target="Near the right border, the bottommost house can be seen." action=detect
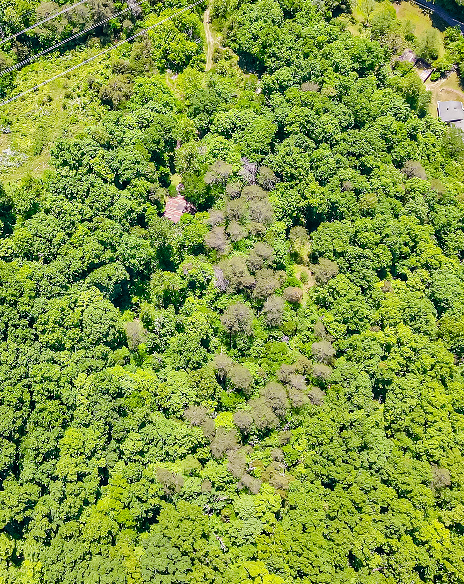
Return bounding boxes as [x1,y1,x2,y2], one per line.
[436,101,464,152]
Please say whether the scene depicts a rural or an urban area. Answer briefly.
rural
